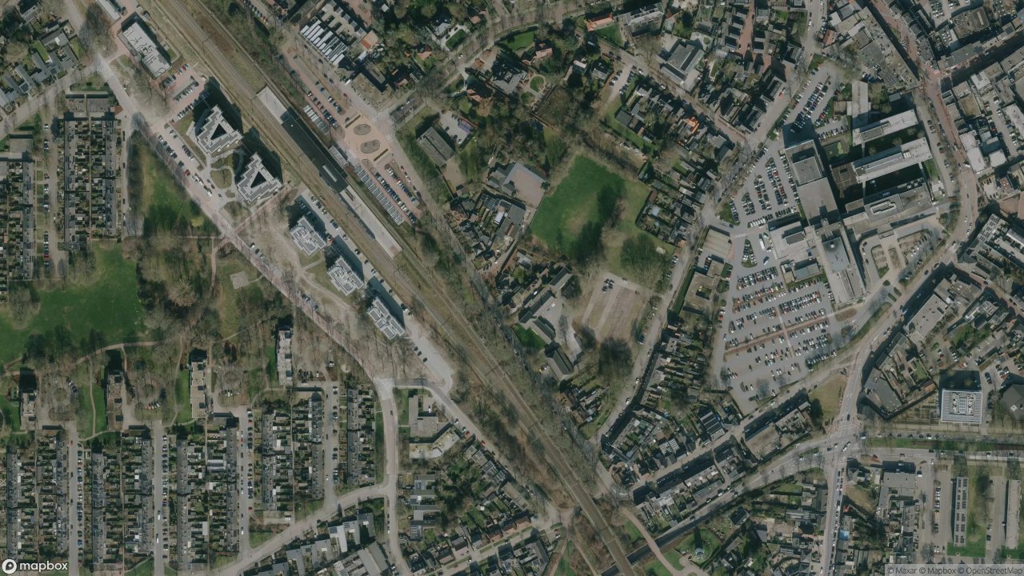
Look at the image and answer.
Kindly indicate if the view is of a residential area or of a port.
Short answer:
residential area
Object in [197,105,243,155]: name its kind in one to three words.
building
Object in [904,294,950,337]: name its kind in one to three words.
building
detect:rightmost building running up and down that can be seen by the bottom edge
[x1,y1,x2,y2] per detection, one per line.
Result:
[1007,474,1020,550]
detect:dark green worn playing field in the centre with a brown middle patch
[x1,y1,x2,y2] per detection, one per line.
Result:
[530,155,623,260]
